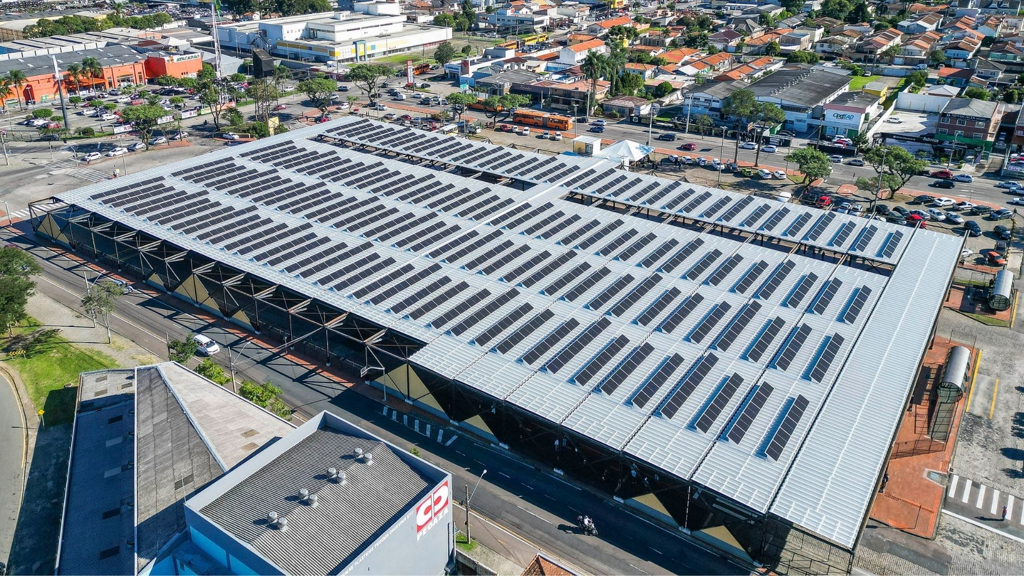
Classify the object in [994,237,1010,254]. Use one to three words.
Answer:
vehicle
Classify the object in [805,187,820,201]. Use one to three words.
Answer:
car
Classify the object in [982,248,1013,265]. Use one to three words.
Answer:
car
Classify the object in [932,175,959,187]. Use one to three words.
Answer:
vehicle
